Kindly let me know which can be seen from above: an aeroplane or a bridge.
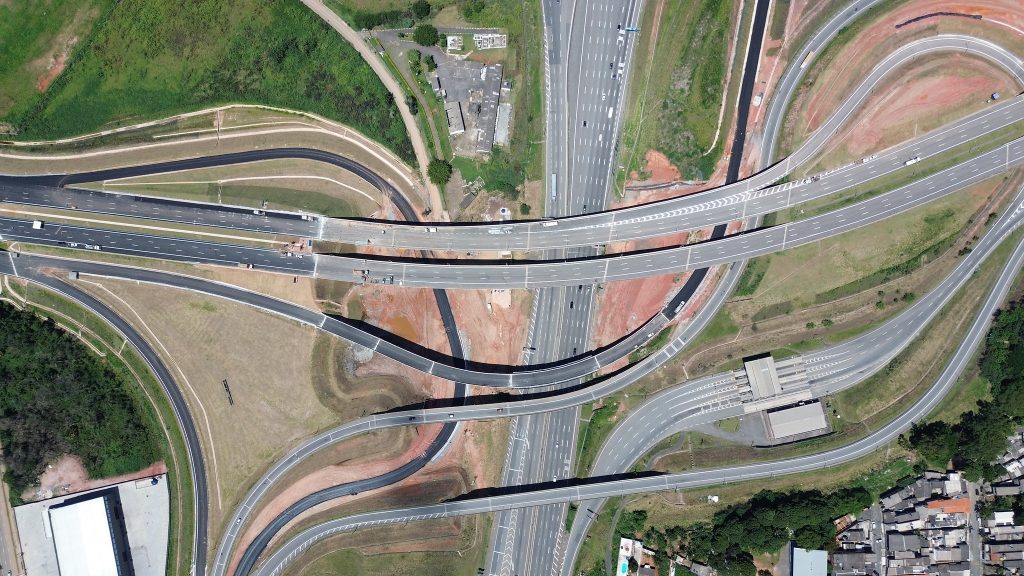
bridge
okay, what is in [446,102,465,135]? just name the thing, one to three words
building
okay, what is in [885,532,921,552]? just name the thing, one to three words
house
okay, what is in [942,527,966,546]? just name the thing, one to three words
house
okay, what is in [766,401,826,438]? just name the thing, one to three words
building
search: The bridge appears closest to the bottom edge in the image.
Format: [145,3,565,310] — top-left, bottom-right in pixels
[443,475,669,516]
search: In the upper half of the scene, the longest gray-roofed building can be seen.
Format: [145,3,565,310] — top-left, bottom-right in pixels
[476,64,502,153]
